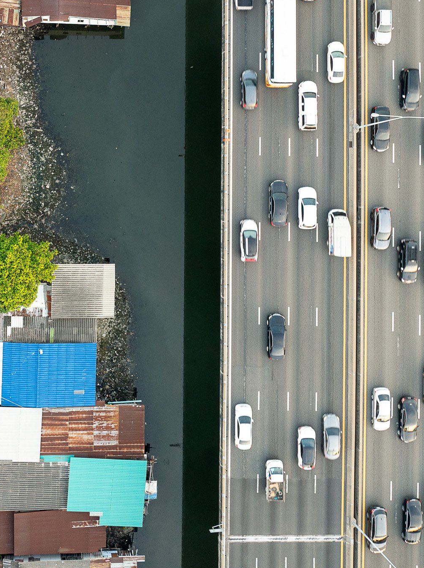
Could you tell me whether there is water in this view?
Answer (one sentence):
Yes, there is water in the image.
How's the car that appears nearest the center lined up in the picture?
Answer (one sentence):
In this picture, the car that appears nearest the center is oriented up and down.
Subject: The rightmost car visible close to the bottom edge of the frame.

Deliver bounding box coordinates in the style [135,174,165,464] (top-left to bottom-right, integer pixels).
[401,497,424,544]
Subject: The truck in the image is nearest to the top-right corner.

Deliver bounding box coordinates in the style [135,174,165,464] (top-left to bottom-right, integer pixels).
[371,0,394,45]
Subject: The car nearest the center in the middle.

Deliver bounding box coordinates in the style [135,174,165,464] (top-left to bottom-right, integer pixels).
[240,221,260,259]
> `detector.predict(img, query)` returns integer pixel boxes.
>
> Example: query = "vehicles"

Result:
[298,187,320,229]
[371,0,394,45]
[326,41,346,83]
[240,221,260,259]
[265,455,286,506]
[269,181,290,226]
[401,497,424,544]
[399,68,422,112]
[267,314,287,359]
[240,71,260,109]
[296,425,319,470]
[366,505,390,553]
[234,404,254,449]
[329,208,354,256]
[235,0,253,10]
[396,239,420,283]
[266,0,296,87]
[298,84,320,129]
[322,413,342,460]
[370,386,393,430]
[370,207,394,249]
[397,397,420,441]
